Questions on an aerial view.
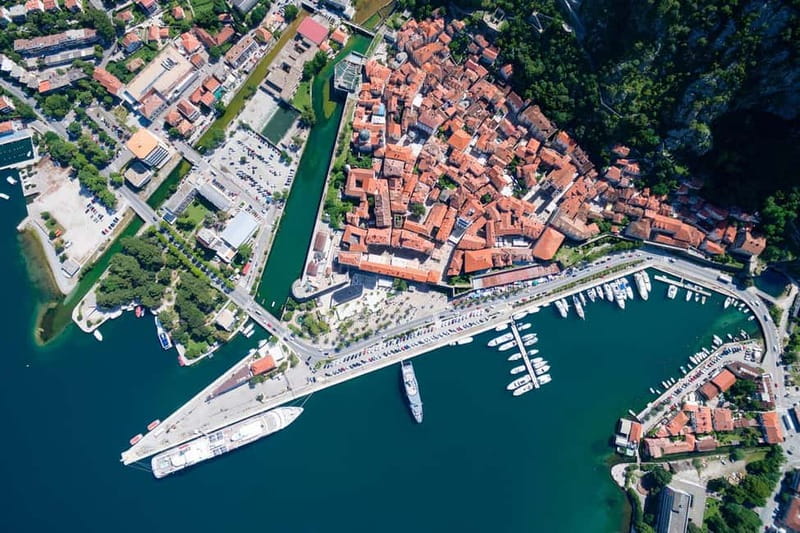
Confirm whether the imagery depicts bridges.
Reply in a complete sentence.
Yes, I can see a bridge in this picture.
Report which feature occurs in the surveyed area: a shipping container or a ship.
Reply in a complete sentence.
It is a ship that can be seen here.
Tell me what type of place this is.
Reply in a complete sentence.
It's a residential area.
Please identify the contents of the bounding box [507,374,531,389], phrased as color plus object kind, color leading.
white boat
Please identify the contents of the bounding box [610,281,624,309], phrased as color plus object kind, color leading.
white boat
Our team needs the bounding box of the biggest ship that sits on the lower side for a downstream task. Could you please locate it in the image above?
[152,408,302,474]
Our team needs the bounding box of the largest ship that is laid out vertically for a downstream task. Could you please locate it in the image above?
[401,356,421,421]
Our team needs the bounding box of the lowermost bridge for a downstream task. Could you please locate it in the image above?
[247,299,283,338]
